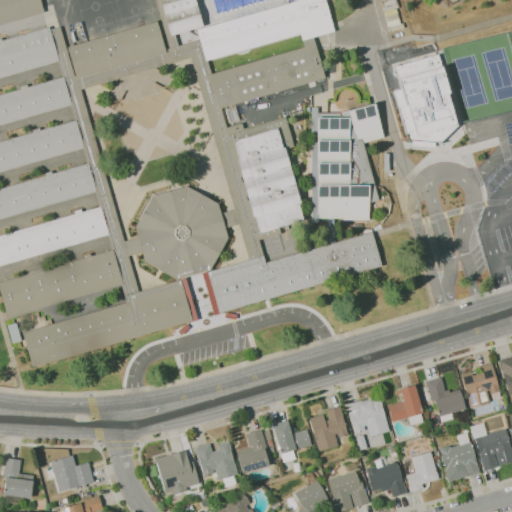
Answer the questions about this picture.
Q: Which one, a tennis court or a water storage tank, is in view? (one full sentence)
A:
Of the two, only a tennis court appears.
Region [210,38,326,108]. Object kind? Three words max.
building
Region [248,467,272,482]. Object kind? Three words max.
swimming pool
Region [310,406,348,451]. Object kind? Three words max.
house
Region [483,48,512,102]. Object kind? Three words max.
tennis court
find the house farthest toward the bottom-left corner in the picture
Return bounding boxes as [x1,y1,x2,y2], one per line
[4,459,34,499]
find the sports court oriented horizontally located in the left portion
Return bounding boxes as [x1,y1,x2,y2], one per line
[54,0,160,45]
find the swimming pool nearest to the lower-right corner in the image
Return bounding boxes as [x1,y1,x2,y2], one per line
[474,400,500,418]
